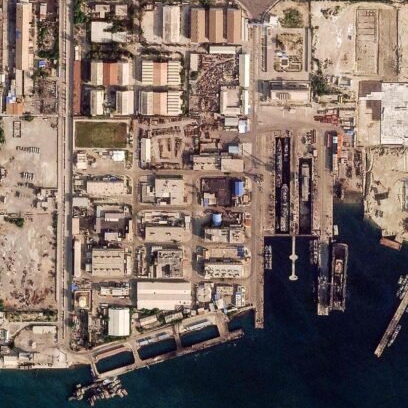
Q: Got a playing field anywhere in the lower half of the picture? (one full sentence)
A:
No, in the lower half of the picture there is no playing field.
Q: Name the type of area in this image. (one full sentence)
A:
What you see here is a port.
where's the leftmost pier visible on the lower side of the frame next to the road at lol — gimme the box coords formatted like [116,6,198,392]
[87,321,244,382]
